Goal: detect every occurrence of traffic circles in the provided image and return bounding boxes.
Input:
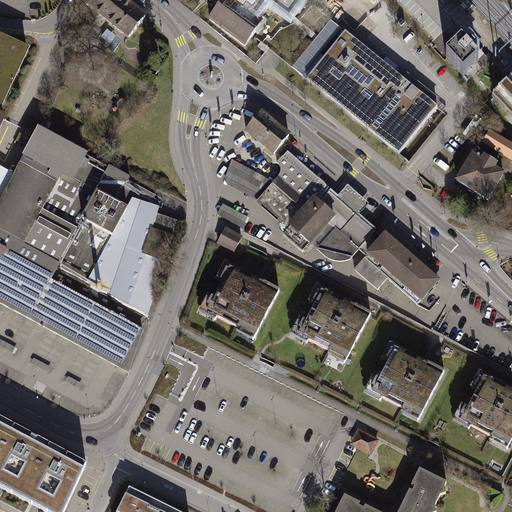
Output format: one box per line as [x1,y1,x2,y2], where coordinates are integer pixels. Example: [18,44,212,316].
[180,48,242,107]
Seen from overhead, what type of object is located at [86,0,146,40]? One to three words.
house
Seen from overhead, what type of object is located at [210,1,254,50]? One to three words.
building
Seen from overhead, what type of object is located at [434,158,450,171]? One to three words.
vehicle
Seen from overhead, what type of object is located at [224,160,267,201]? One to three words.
shed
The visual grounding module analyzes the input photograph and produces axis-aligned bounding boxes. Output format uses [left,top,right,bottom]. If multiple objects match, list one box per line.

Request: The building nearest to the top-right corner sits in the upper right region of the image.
[445,28,486,76]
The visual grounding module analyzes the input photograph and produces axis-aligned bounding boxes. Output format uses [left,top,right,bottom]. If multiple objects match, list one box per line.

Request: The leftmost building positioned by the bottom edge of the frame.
[0,415,87,512]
